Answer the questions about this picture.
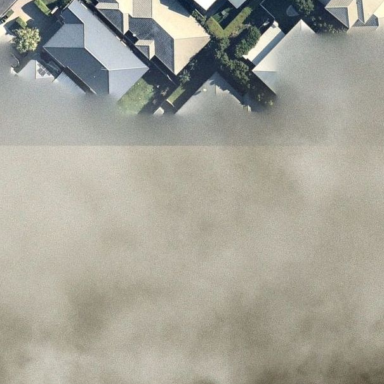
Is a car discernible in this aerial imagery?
No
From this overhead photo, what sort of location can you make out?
residential area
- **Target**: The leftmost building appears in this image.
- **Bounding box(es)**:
[2,61,69,127]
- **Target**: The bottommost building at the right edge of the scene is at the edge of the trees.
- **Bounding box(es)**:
[253,20,370,139]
